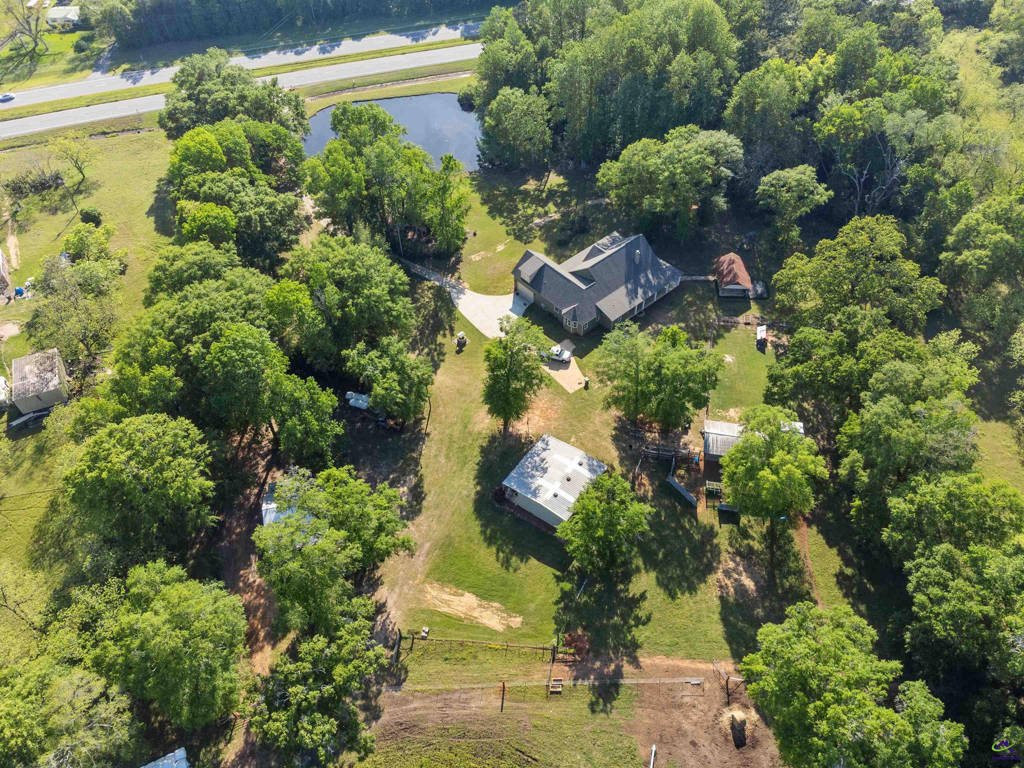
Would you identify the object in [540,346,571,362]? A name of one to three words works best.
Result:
vehicle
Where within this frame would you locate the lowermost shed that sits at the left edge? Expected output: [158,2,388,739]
[11,348,67,412]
